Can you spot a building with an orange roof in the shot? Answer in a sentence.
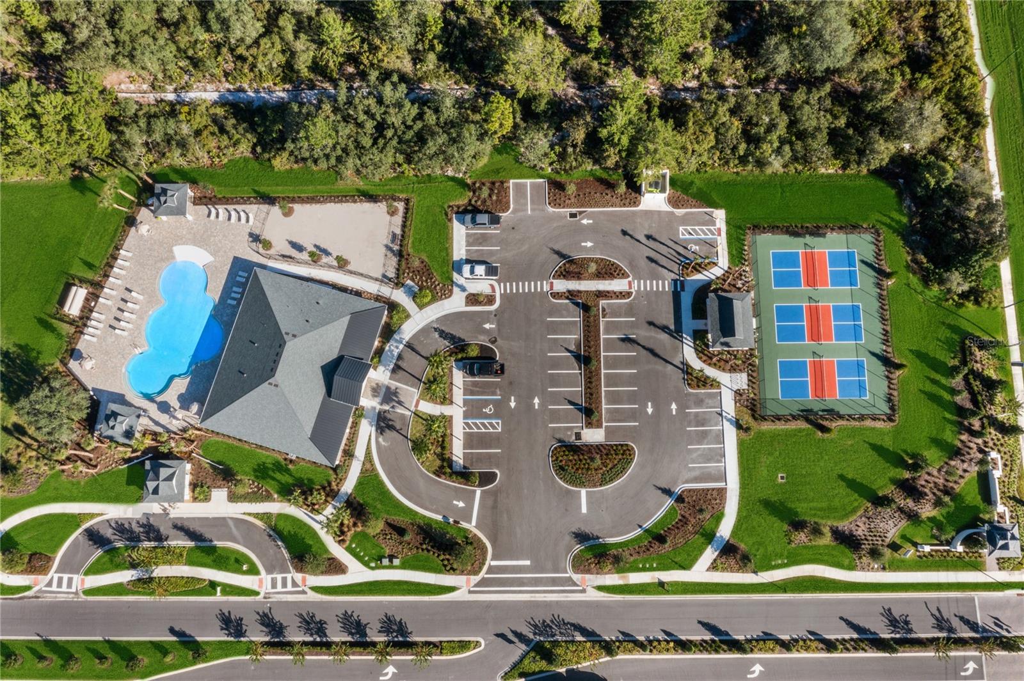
No, the photo shows no building with an orange roof.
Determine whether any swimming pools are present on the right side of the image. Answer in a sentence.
No, on the right side of the image there is no swimming pool.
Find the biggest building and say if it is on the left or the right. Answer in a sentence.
You can find the biggest building on the left side of the picture.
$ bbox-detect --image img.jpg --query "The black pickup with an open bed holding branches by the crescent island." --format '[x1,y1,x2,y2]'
[463,360,503,376]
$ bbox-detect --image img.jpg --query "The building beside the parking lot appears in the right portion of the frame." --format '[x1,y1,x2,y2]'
[704,292,755,351]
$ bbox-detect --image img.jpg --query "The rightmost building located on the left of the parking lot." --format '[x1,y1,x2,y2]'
[197,267,389,467]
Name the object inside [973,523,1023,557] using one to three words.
gazebo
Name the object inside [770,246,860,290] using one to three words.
sports court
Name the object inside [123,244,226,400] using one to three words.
swimming pool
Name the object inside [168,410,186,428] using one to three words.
umbrella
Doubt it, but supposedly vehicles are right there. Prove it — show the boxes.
[463,360,503,376]
[463,212,502,228]
[462,263,501,279]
